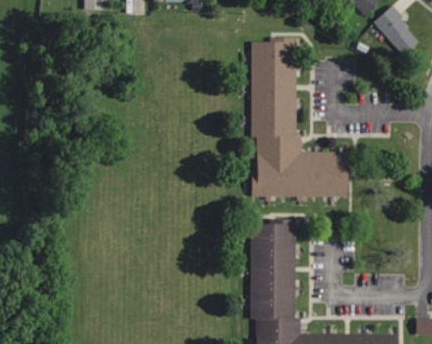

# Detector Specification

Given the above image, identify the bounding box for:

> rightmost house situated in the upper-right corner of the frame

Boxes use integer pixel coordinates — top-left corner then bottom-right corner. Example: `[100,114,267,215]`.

[374,4,419,49]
